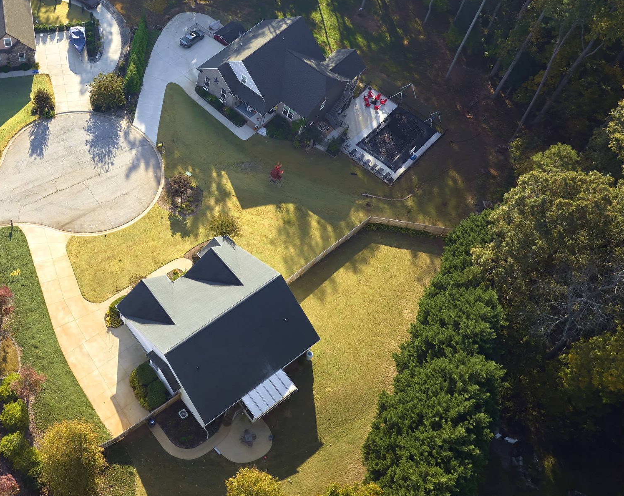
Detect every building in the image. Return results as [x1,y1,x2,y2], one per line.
[113,234,319,449]
[196,15,368,132]
[0,0,35,65]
